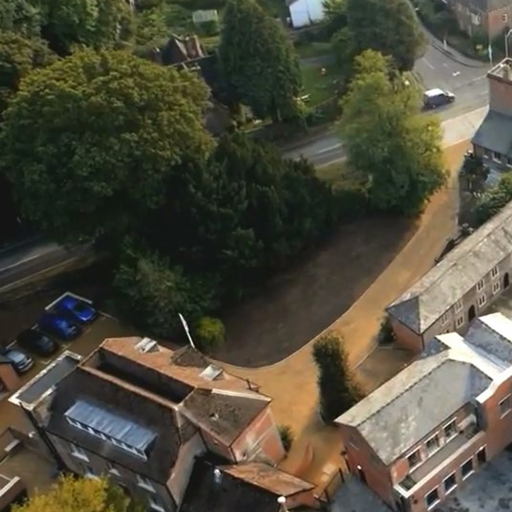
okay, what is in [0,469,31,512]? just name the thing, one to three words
building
